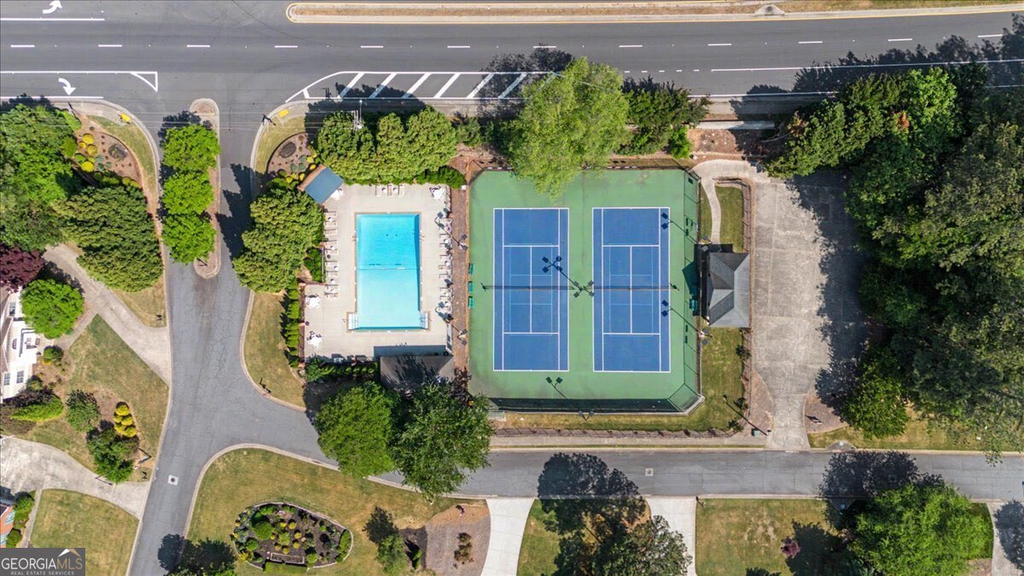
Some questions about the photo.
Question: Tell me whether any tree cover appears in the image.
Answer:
Yes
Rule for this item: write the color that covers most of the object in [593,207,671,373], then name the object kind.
blue tennis court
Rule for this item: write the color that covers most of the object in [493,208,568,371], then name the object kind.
blue tennis court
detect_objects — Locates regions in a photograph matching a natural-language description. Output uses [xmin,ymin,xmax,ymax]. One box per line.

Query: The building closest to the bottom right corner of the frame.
[706,252,751,328]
